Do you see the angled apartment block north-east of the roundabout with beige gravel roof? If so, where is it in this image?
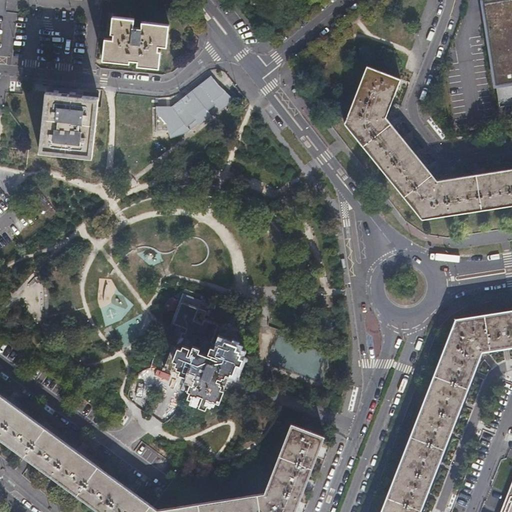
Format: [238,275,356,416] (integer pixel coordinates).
[344,67,512,220]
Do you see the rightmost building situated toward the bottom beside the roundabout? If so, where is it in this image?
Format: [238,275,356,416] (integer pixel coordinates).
[380,310,512,512]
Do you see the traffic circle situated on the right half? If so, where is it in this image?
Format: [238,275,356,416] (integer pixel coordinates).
[364,244,446,326]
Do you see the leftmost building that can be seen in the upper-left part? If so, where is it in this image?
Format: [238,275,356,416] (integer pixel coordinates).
[38,92,100,162]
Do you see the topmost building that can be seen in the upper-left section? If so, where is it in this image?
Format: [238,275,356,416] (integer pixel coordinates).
[102,18,170,71]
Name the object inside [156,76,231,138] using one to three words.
building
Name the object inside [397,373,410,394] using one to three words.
vehicle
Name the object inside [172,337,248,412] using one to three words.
house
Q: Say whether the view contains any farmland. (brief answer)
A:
No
